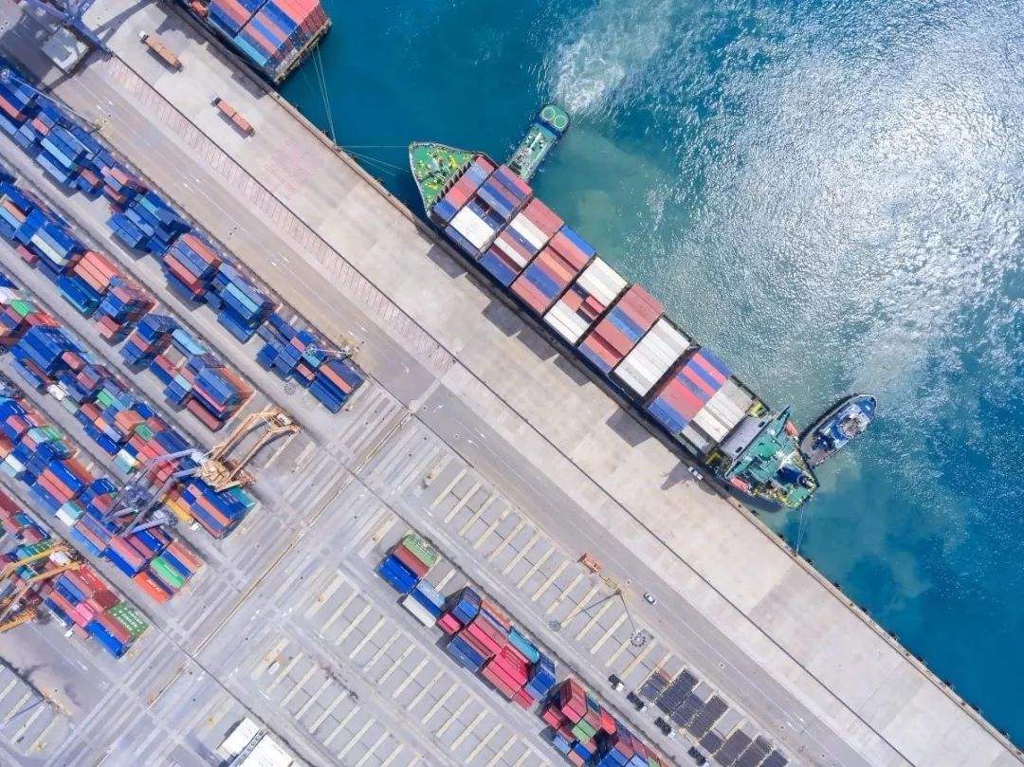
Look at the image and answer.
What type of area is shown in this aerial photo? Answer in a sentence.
The area seen from above is a port.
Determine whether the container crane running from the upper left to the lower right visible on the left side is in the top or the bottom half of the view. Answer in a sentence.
You can find the container crane running from the upper left to the lower right visible on the left side in the top half.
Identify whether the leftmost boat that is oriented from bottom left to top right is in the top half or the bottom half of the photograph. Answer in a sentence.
The top half of the photo is where the leftmost boat that is oriented from bottom left to top right is.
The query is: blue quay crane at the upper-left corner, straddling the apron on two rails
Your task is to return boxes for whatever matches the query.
[40,0,120,59]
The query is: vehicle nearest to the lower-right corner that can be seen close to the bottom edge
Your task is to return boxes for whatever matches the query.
[688,747,712,767]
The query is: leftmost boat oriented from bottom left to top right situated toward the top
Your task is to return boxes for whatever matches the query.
[500,99,566,185]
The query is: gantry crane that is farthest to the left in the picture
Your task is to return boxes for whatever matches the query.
[0,543,78,637]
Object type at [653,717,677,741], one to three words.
truck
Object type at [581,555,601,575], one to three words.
vehicle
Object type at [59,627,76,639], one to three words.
vehicle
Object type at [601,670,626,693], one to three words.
truck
